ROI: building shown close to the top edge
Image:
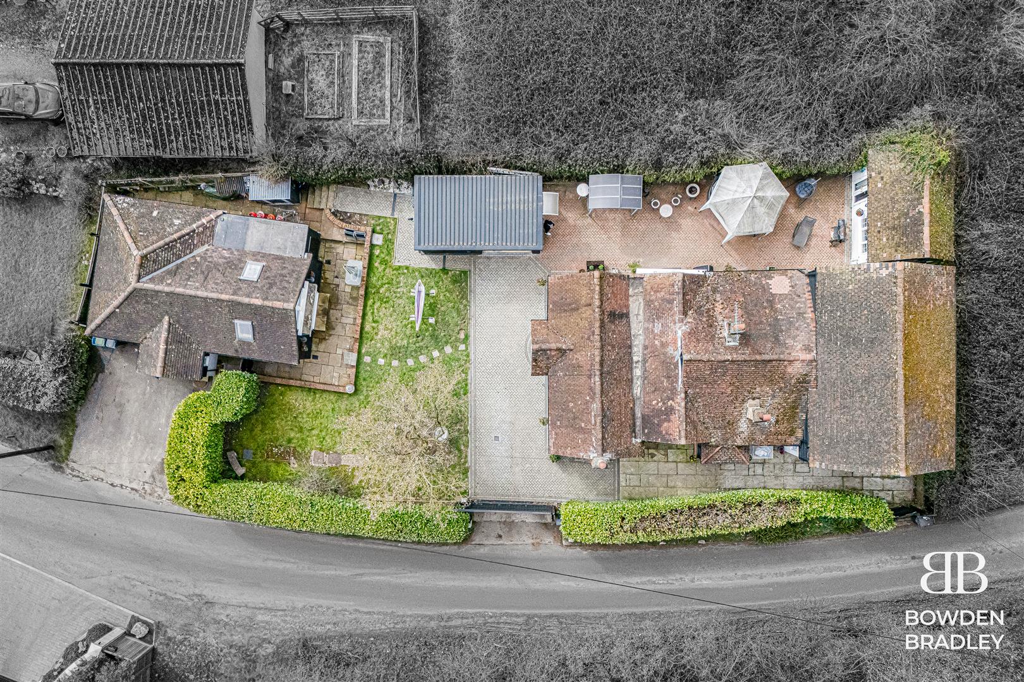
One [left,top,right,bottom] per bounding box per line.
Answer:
[44,0,265,163]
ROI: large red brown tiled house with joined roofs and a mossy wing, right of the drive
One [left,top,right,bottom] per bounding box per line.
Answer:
[531,263,957,476]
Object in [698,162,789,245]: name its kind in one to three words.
gazebo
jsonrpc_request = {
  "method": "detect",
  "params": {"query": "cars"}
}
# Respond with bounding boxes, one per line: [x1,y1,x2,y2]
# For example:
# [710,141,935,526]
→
[0,78,61,125]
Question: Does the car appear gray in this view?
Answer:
Yes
